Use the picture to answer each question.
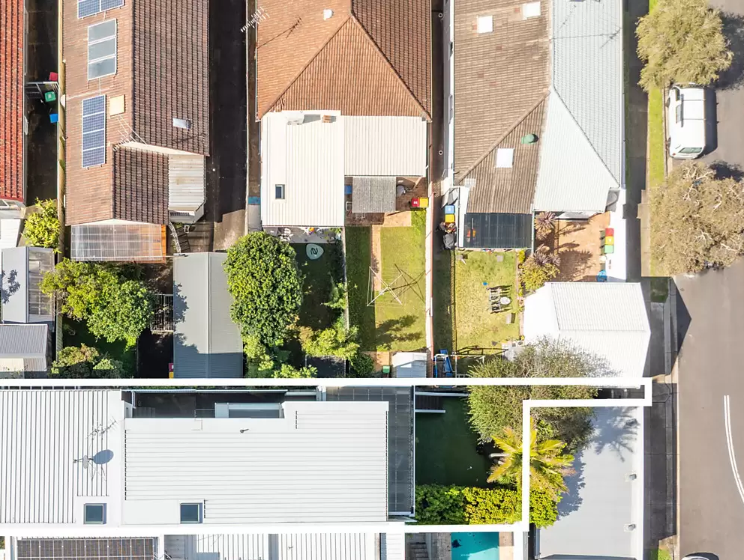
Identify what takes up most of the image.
buildings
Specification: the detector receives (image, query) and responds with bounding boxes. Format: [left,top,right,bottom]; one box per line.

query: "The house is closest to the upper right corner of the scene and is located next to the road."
[444,0,622,247]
